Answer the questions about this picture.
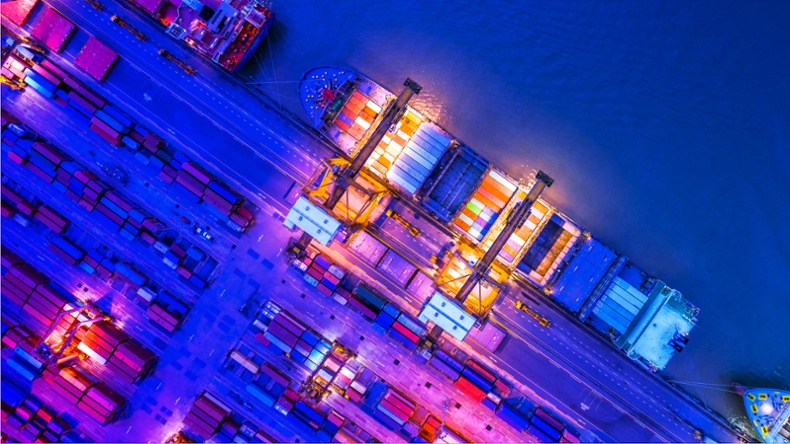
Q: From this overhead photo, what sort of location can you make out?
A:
port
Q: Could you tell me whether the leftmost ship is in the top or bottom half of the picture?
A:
top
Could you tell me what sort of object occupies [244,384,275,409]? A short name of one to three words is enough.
shipping container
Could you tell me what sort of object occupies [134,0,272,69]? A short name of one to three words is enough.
ship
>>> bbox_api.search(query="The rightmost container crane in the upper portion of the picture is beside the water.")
[280,73,427,262]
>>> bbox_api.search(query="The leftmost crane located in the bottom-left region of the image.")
[24,303,110,372]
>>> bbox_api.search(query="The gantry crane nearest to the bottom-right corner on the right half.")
[413,166,557,354]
